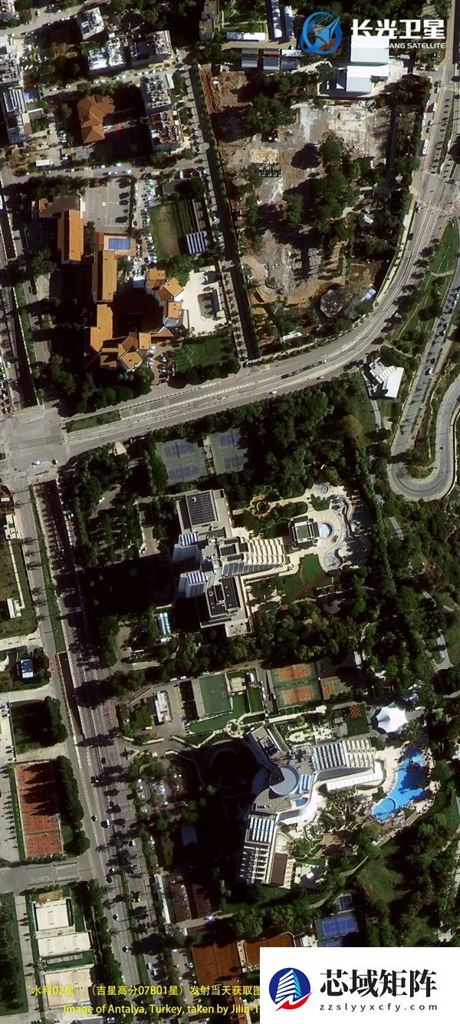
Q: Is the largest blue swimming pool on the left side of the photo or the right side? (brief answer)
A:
right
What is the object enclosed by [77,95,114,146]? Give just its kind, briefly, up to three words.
house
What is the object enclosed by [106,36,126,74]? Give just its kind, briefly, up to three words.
building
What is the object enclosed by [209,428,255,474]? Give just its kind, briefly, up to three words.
tennis court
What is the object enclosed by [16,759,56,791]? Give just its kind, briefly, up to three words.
basketball court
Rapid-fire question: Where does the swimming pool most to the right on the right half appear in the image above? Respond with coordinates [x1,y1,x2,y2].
[372,746,429,821]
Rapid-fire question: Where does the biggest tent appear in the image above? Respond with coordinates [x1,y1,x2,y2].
[375,703,410,737]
